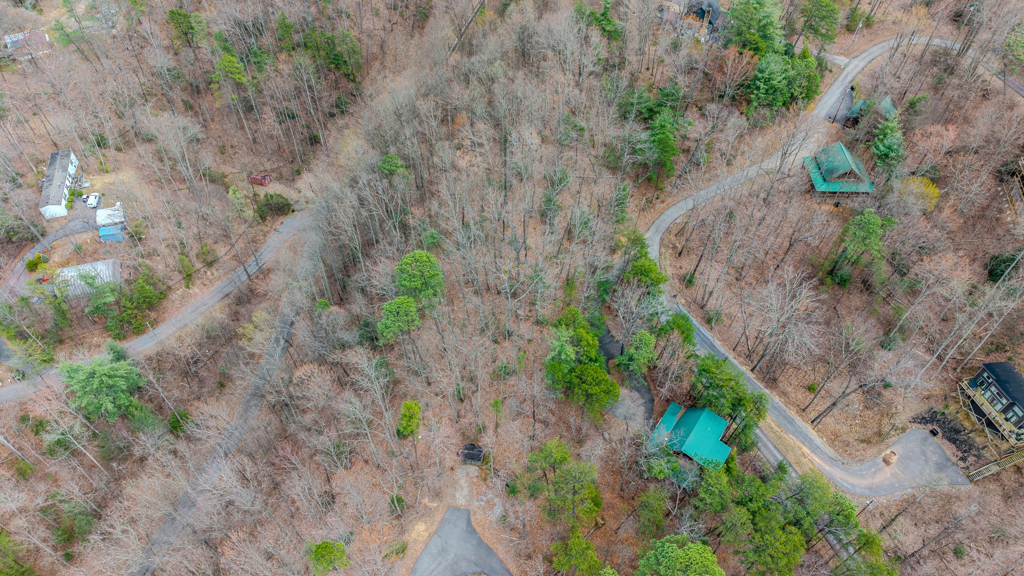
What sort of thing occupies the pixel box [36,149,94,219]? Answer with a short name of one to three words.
house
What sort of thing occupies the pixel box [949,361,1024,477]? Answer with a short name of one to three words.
house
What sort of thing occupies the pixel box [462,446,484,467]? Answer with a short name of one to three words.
shed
